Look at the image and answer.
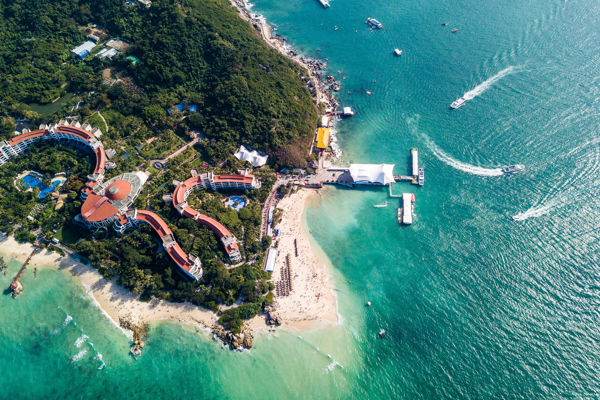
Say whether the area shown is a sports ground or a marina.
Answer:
marina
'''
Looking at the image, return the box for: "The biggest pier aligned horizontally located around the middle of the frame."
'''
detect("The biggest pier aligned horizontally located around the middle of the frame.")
[322,163,394,189]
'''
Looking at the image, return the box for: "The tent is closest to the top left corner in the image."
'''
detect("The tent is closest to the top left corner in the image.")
[236,146,270,167]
